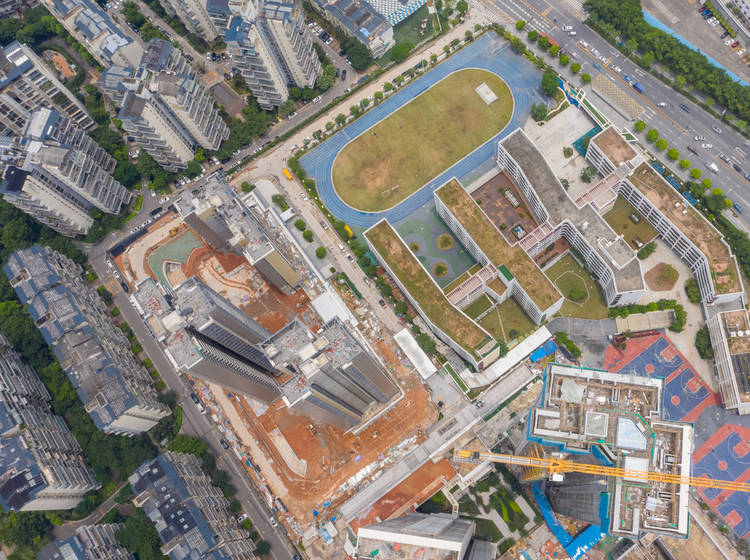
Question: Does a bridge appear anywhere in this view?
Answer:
Yes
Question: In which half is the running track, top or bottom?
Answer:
top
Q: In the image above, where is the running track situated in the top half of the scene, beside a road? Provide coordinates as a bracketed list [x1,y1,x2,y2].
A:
[299,30,556,228]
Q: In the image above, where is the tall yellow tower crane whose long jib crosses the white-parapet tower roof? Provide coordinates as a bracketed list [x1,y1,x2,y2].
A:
[452,446,750,492]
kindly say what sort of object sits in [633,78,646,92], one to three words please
vehicle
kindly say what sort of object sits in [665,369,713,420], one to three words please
basketball court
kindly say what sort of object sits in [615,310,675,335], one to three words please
building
